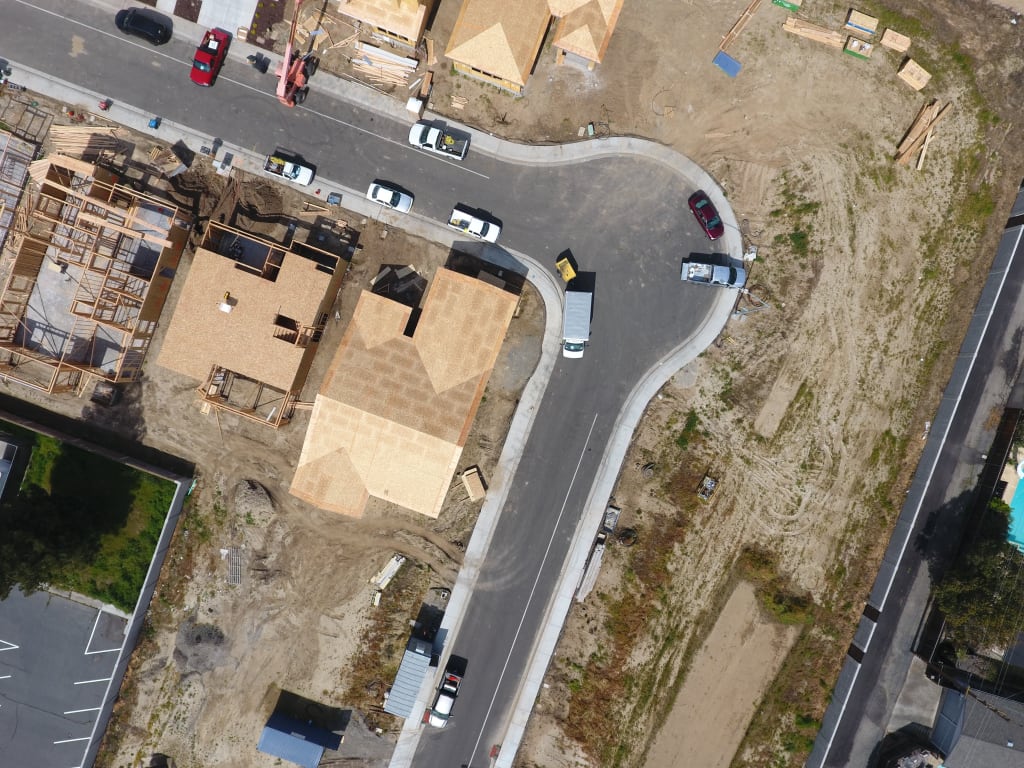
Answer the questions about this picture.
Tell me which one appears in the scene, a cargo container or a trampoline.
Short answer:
cargo container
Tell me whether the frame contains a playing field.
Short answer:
No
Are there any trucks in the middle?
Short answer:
Yes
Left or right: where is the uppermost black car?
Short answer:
left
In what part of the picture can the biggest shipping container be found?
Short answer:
bottom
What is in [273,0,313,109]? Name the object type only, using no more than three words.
work vehicle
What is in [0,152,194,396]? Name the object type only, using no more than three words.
house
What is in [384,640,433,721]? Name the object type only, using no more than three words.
shipping container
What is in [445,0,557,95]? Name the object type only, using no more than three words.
house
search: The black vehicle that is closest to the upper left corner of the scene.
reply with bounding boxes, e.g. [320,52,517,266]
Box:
[116,10,172,46]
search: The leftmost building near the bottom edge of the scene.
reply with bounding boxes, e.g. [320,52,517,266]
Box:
[258,711,346,768]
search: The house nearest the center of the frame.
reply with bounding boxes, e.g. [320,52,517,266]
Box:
[291,265,517,518]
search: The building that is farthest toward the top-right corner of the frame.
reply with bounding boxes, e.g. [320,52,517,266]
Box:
[553,0,627,73]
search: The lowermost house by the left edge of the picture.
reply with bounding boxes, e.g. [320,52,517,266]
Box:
[0,435,35,503]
